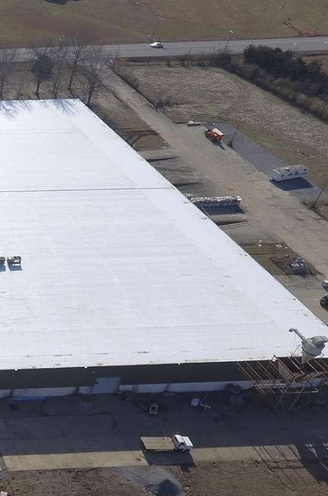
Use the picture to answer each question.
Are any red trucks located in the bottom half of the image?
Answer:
No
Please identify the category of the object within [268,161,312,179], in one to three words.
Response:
vehicle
